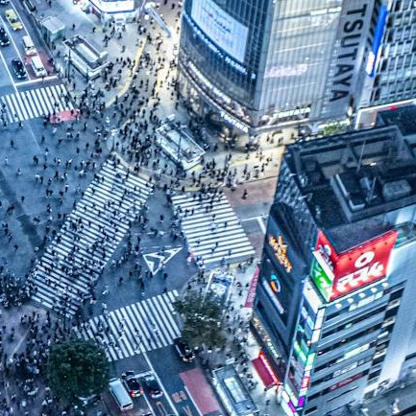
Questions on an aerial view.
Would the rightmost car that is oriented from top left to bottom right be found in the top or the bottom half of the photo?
bottom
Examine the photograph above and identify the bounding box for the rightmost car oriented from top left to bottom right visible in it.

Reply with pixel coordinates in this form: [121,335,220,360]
[175,336,199,364]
